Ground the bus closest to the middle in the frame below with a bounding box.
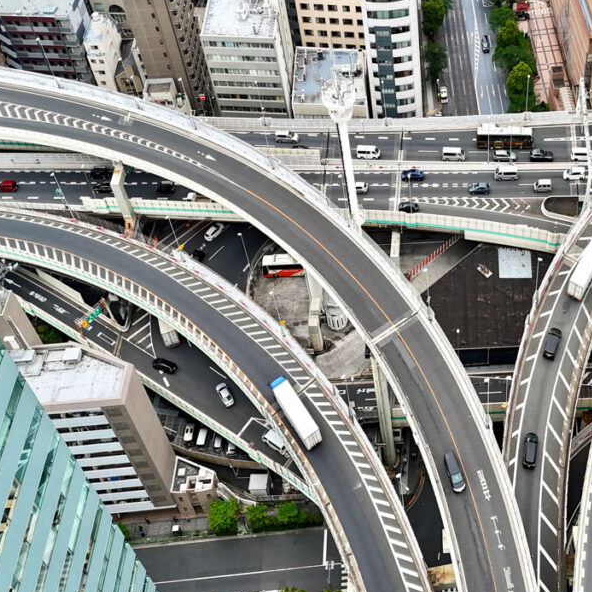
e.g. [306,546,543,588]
[258,256,307,277]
